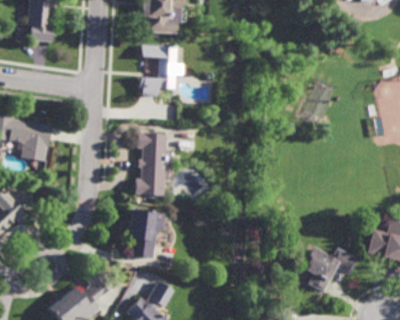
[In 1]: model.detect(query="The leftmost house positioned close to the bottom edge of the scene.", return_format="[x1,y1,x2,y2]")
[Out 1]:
[44,277,108,320]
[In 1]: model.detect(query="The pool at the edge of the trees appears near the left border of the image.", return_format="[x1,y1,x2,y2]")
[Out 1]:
[3,155,30,172]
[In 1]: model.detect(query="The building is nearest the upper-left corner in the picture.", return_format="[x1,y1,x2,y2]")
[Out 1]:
[30,0,56,42]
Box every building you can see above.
[142,43,186,96]
[127,210,168,260]
[179,140,195,153]
[30,0,56,42]
[144,0,190,34]
[307,244,358,296]
[368,218,400,261]
[44,277,108,320]
[0,196,26,238]
[0,112,53,164]
[134,134,170,196]
[132,278,176,320]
